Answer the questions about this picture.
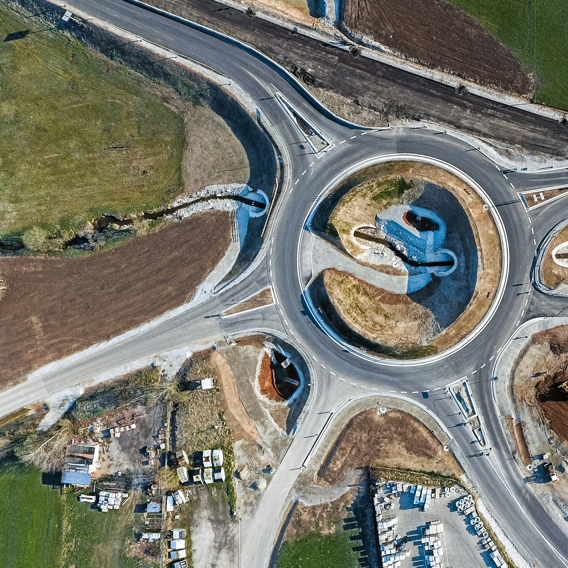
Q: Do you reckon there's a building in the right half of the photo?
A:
No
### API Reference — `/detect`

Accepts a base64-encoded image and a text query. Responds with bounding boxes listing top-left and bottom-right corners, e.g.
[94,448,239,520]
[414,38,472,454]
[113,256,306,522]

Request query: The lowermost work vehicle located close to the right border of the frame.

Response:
[544,461,561,486]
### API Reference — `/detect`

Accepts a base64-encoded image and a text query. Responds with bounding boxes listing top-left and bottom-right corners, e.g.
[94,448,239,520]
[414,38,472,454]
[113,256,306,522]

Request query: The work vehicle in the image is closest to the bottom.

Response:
[397,536,412,552]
